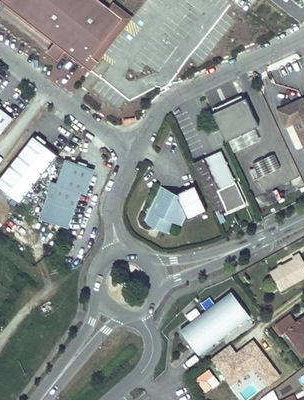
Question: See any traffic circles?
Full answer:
Yes, there's a traffic circle here.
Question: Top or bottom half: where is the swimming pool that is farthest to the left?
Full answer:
The bottom half of the photo is where the swimming pool that is farthest to the left is.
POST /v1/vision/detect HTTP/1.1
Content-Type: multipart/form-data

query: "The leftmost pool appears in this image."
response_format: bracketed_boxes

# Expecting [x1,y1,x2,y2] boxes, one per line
[230,370,268,400]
